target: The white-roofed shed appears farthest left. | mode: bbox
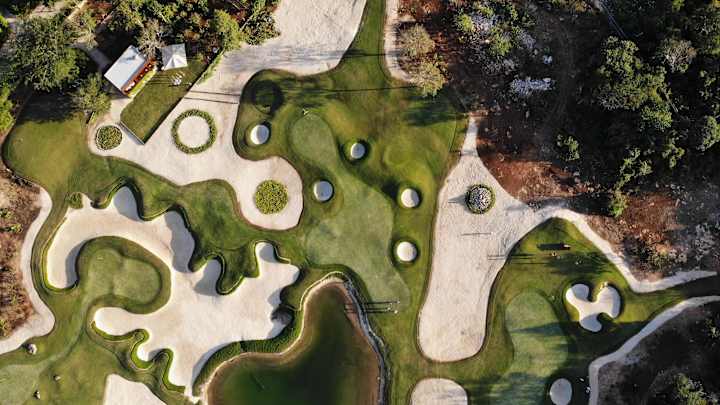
[103,45,155,96]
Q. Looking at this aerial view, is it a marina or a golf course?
golf course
